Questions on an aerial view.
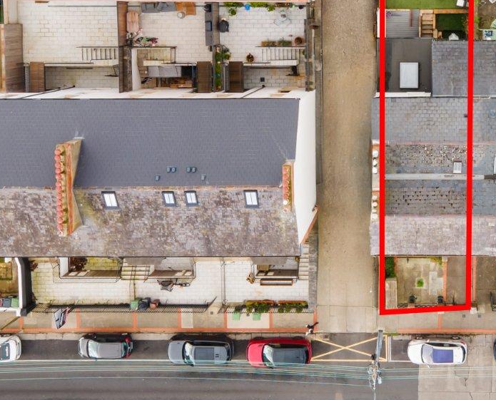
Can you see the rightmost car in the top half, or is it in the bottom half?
bottom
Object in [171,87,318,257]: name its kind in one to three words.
house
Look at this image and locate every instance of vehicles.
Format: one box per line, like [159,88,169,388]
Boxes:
[249,335,312,371]
[409,336,468,369]
[0,334,20,363]
[167,334,234,371]
[76,333,133,364]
